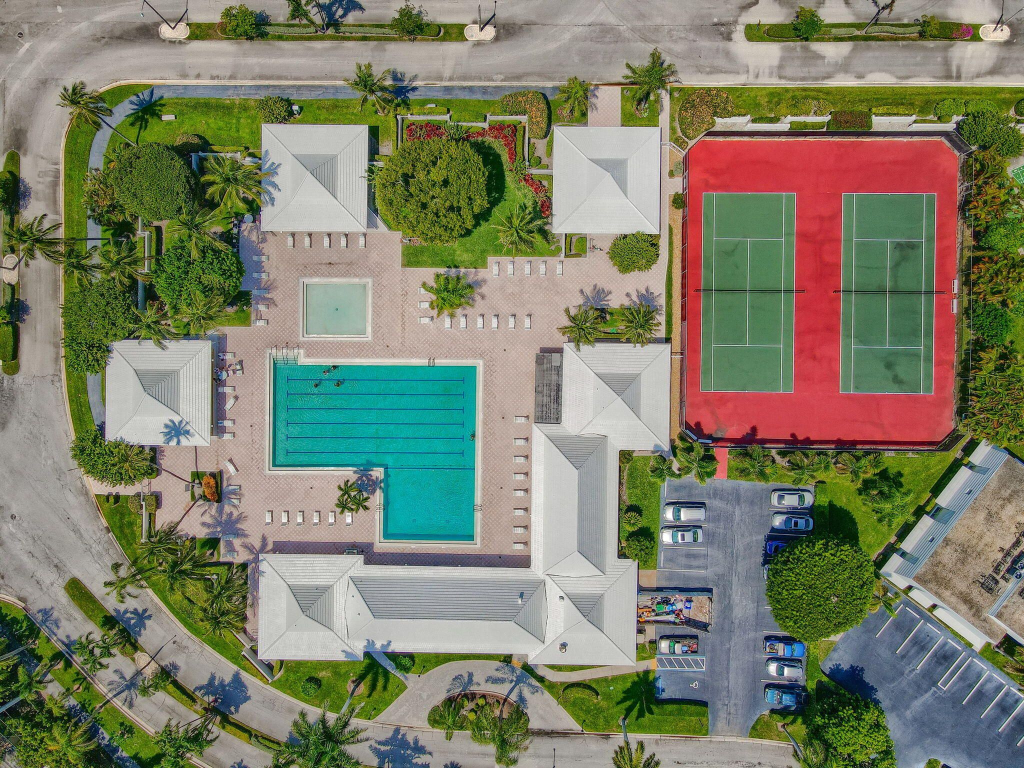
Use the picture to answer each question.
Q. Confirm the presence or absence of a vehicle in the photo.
Yes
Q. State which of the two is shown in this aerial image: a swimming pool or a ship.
swimming pool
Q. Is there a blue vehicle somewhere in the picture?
Yes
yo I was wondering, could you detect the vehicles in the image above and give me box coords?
[664,503,707,522]
[661,527,703,545]
[765,685,809,705]
[771,514,814,532]
[765,659,805,678]
[658,637,700,657]
[762,639,807,659]
[770,490,813,508]
[765,539,806,556]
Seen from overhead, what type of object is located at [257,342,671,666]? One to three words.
building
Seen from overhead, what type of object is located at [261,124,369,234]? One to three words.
building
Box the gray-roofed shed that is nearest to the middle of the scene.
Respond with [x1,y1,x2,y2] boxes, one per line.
[535,353,562,423]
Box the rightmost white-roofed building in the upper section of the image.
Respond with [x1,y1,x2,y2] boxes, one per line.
[553,126,661,235]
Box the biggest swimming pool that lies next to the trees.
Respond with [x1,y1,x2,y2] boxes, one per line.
[264,345,486,550]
